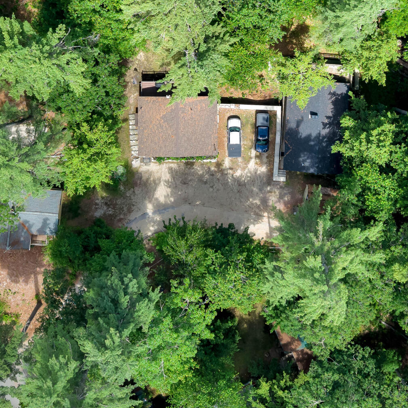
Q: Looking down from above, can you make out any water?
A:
No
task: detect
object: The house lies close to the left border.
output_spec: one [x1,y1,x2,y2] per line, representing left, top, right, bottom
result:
[0,188,64,257]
